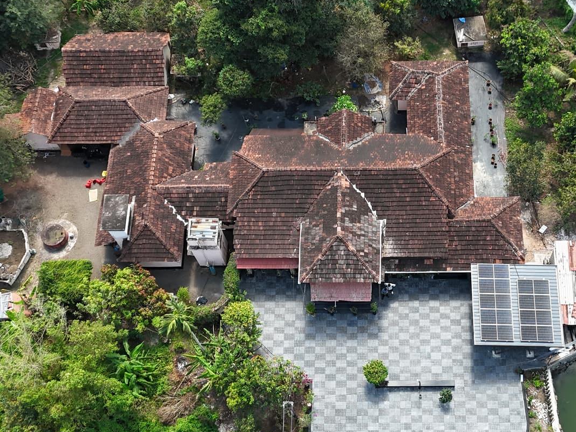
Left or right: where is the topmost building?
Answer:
right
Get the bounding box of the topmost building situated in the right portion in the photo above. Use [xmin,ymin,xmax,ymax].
[453,15,487,56]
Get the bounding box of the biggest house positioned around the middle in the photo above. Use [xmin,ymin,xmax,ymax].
[155,58,526,314]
